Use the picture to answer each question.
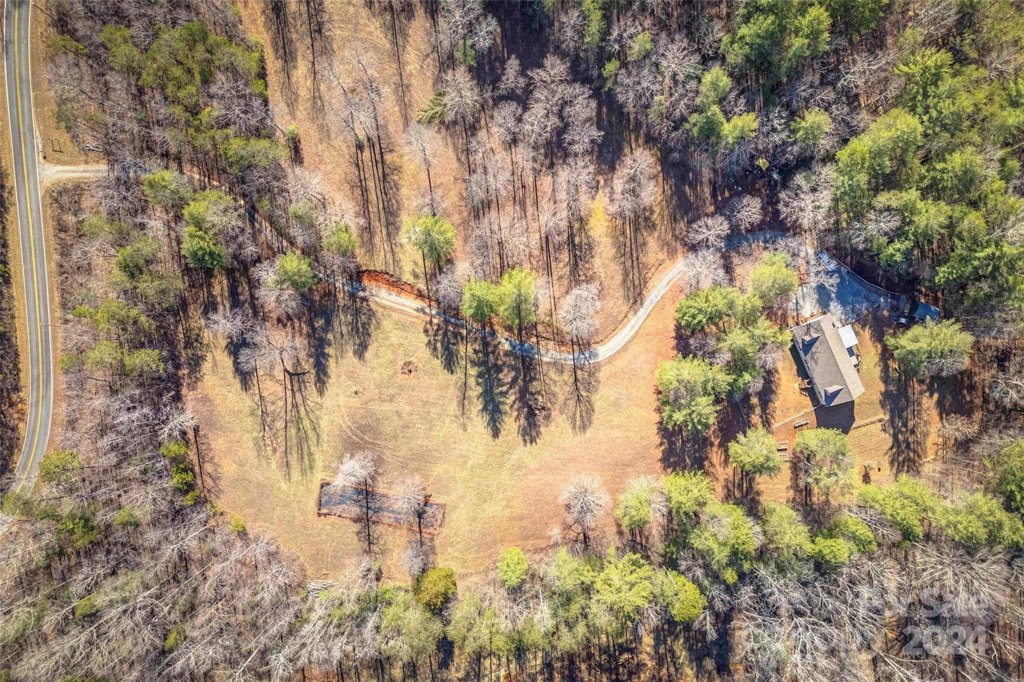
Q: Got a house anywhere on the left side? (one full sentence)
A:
No, the scene shows no house on the left side.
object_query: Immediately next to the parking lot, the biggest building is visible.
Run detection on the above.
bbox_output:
[789,313,865,408]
